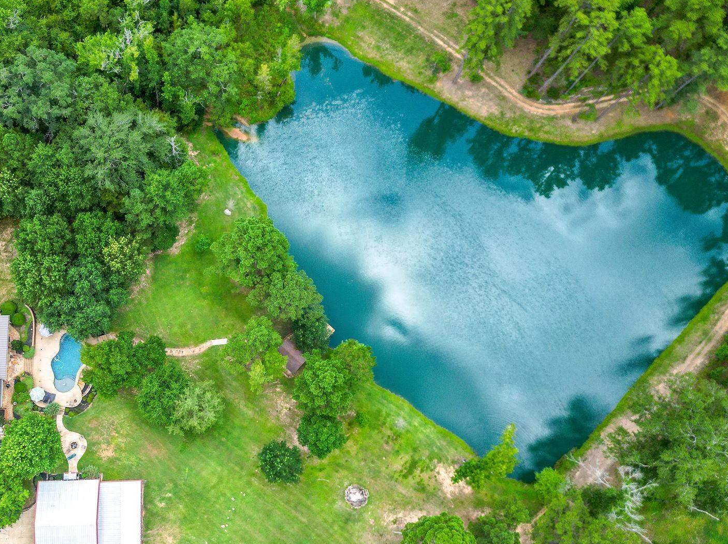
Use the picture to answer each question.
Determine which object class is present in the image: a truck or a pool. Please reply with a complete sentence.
The one in the frame is a pool.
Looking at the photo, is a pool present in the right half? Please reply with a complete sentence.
No, I can find no pool in the right half.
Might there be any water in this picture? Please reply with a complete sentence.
Yes, there is water in the image.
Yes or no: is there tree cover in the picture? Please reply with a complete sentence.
Yes, the picture does contain tree cover.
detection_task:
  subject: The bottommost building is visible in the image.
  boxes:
[31,479,143,544]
